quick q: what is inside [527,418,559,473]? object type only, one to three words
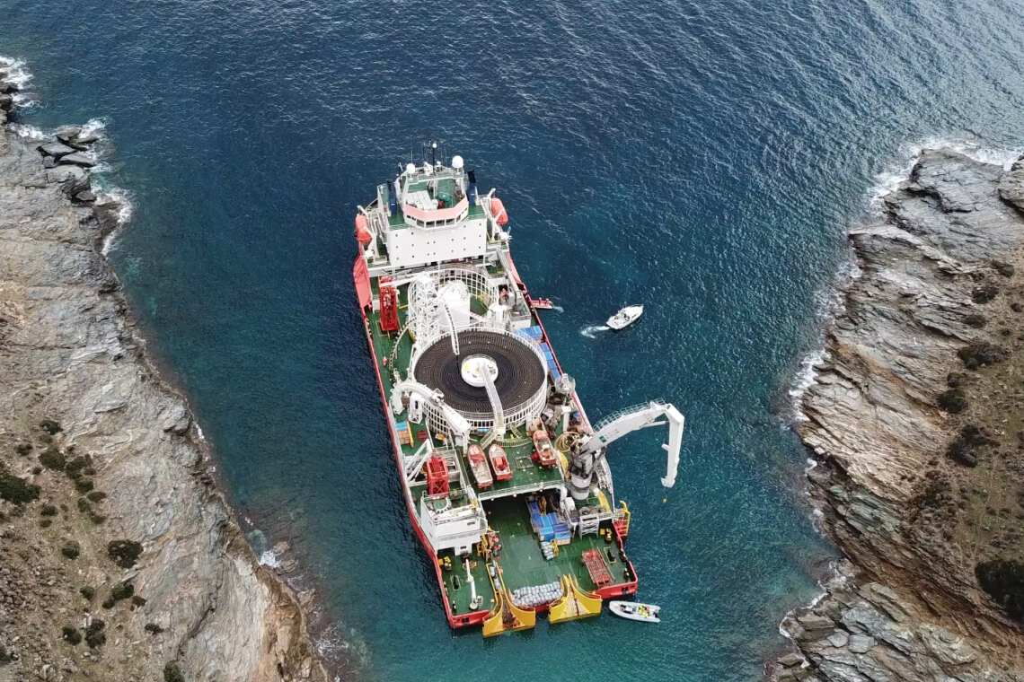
boat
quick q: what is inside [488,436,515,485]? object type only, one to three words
boat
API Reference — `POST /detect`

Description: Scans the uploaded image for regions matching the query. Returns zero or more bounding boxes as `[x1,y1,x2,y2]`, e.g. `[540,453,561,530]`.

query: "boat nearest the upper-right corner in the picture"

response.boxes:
[608,301,643,327]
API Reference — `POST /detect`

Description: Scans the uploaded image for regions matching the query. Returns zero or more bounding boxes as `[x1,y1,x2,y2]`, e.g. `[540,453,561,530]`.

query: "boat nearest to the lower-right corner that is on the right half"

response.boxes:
[609,600,666,621]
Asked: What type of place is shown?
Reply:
port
